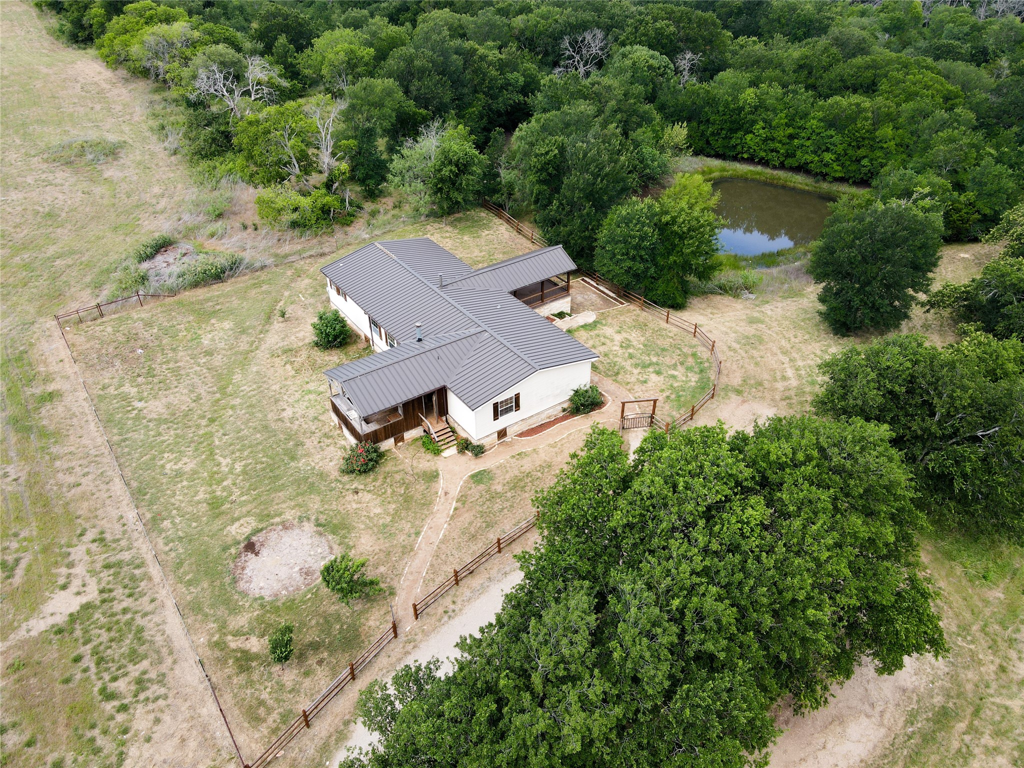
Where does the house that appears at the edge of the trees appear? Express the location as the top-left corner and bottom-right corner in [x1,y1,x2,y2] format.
[319,238,601,454]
